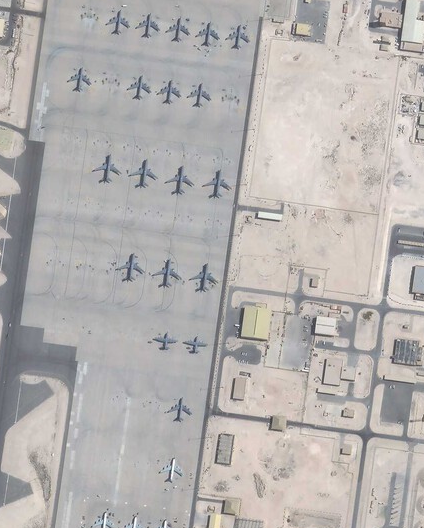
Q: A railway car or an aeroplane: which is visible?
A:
aeroplane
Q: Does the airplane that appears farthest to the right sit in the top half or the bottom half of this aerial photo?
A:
top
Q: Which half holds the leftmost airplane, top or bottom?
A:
top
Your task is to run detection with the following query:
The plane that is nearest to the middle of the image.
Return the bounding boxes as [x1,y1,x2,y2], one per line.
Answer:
[190,264,219,292]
